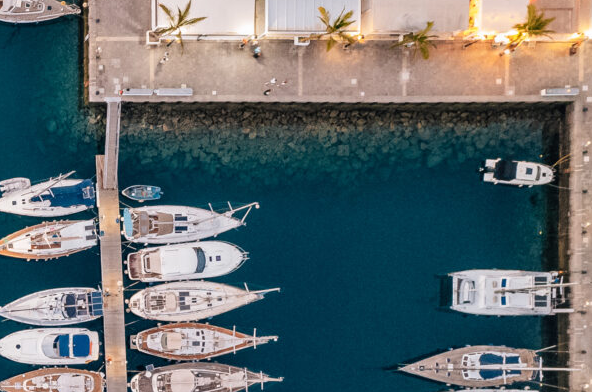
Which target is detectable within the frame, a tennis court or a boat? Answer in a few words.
boat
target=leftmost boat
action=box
[0,177,31,195]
